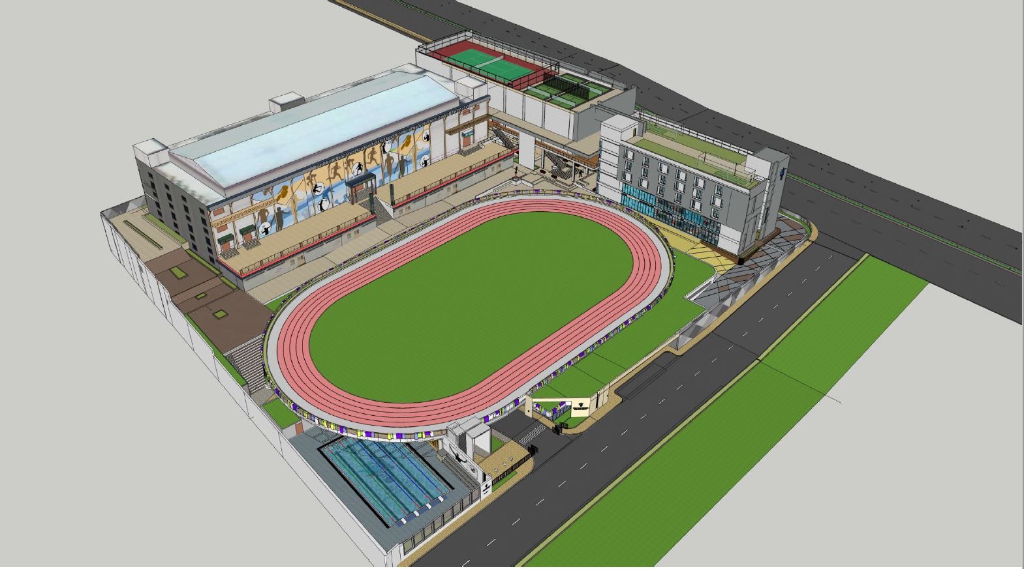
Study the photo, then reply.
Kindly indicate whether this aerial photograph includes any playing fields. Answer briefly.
Yes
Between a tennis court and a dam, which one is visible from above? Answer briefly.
tennis court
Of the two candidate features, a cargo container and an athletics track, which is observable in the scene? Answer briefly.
athletics track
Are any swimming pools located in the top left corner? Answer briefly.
No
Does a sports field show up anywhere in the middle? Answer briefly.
Yes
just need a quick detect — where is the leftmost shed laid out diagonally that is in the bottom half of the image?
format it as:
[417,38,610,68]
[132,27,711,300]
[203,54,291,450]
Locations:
[262,398,303,438]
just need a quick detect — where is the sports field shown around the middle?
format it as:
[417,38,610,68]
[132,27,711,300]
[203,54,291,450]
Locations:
[309,211,632,402]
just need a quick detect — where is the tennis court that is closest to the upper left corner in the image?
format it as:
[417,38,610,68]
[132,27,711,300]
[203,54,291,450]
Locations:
[425,38,557,90]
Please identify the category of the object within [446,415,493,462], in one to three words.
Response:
building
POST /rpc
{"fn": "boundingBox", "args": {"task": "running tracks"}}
[276,198,660,427]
